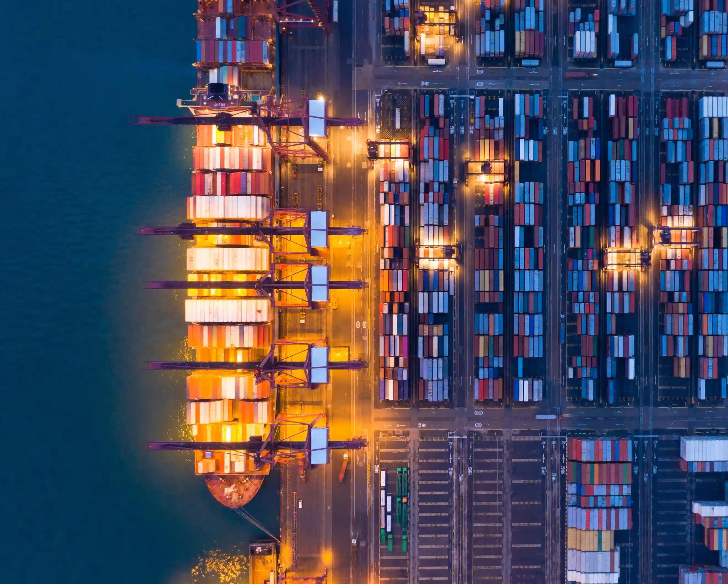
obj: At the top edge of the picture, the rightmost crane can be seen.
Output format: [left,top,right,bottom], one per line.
[412,10,460,41]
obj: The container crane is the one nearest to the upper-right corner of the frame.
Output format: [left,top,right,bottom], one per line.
[644,226,700,248]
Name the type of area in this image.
port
